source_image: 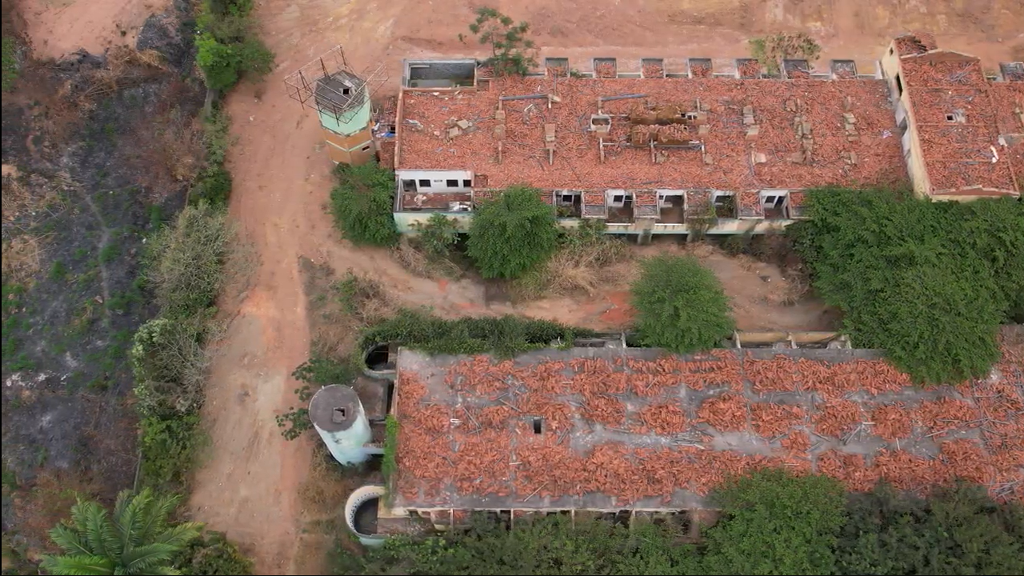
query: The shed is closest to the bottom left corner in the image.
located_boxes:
[359,378,391,431]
